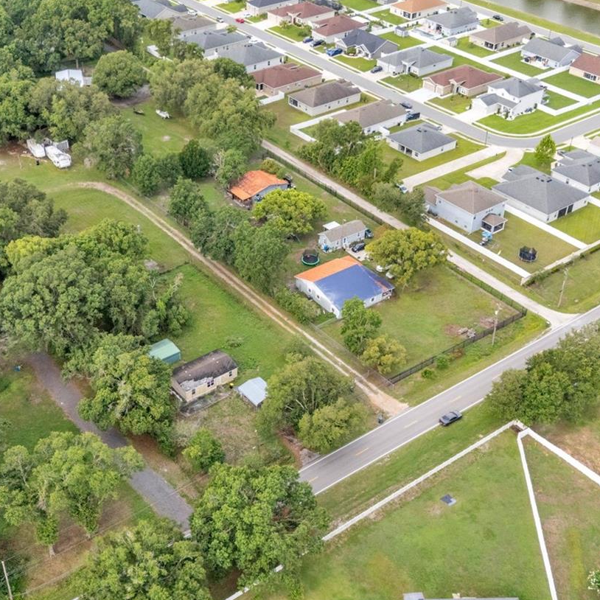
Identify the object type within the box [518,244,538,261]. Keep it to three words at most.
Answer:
trampoline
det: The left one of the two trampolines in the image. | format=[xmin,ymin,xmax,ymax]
[301,248,320,265]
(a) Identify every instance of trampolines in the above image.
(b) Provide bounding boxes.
[518,244,538,261]
[301,248,320,265]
